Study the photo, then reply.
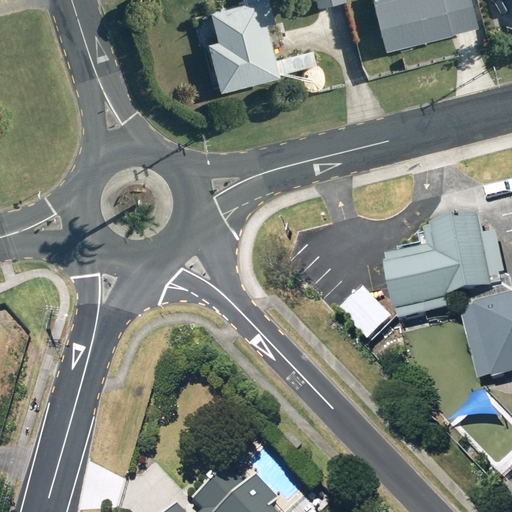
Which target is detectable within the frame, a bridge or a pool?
pool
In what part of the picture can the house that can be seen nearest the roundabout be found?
top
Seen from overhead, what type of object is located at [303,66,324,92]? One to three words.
umbrella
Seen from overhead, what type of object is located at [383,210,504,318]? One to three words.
building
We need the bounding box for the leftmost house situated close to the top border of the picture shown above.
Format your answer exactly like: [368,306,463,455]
[208,0,282,94]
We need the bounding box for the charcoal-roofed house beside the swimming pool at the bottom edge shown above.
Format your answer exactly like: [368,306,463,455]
[190,472,278,512]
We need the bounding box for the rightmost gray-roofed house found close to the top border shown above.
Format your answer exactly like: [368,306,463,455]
[376,0,479,54]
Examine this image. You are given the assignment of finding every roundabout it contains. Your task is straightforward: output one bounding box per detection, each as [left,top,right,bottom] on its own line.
[100,167,174,240]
